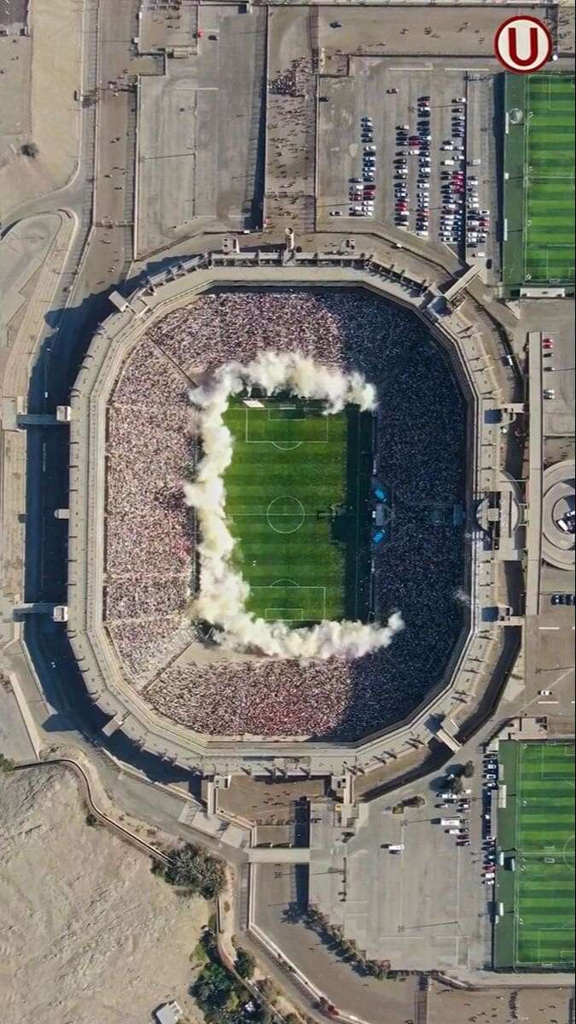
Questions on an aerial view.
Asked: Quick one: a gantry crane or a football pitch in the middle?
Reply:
football pitch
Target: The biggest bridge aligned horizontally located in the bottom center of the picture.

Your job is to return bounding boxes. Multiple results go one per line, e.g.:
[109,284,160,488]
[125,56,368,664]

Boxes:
[247,847,312,862]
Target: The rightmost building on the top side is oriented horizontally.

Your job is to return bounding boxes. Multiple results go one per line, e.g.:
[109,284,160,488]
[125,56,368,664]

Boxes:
[519,287,565,299]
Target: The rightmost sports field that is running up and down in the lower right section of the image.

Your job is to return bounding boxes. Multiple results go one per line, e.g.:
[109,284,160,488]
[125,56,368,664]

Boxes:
[495,740,576,970]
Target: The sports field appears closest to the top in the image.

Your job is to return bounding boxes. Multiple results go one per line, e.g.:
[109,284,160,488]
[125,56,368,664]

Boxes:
[503,73,576,294]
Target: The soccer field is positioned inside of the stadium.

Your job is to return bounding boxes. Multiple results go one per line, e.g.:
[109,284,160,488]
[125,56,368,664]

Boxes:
[203,394,370,632]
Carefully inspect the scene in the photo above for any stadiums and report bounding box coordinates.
[53,237,528,791]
